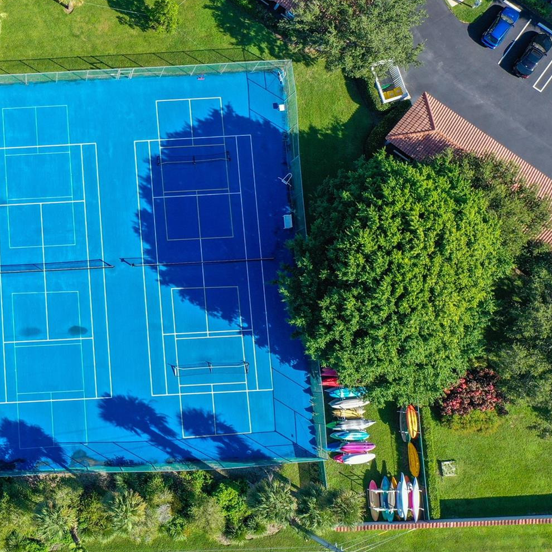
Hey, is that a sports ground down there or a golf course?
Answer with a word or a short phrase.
sports ground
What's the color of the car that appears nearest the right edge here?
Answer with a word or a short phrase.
black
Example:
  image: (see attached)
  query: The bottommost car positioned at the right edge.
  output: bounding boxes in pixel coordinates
[513,31,552,80]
